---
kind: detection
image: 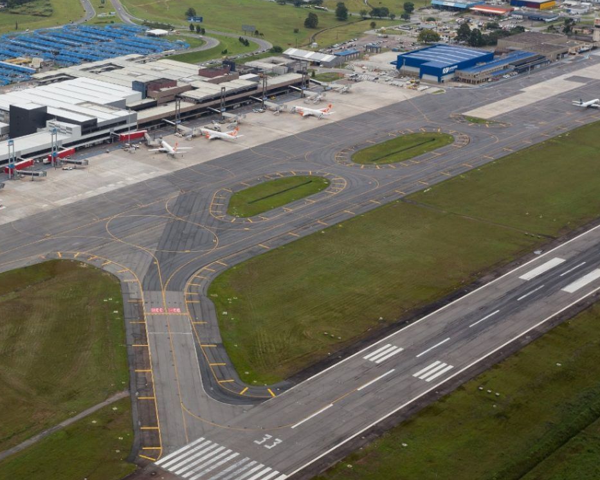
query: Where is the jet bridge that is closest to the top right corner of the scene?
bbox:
[308,77,353,90]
